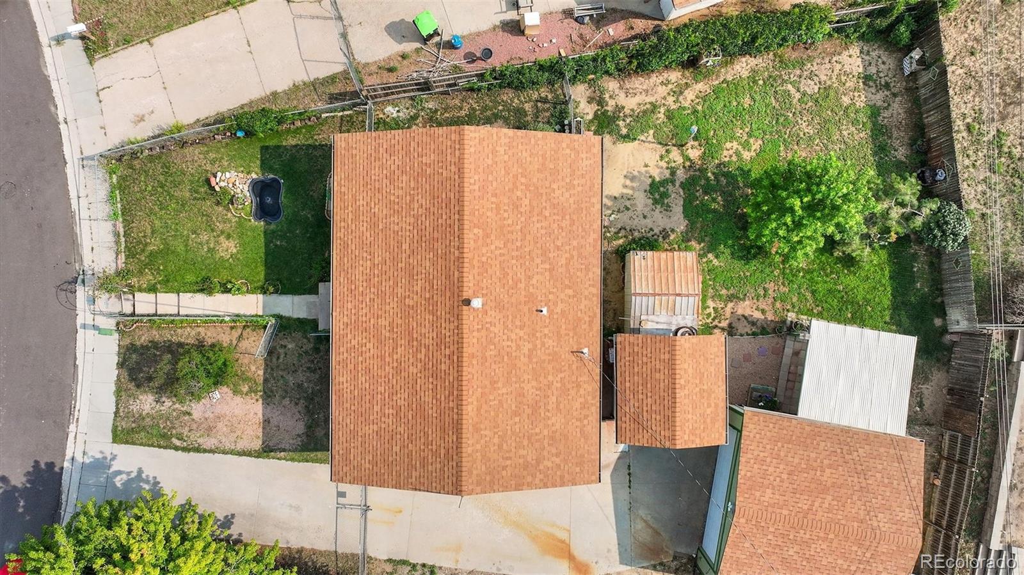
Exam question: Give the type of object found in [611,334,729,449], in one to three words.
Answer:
shed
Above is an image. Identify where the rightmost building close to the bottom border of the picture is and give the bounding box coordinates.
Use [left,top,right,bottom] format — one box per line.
[694,404,924,575]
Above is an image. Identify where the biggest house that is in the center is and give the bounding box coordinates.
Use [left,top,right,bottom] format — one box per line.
[329,125,604,494]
